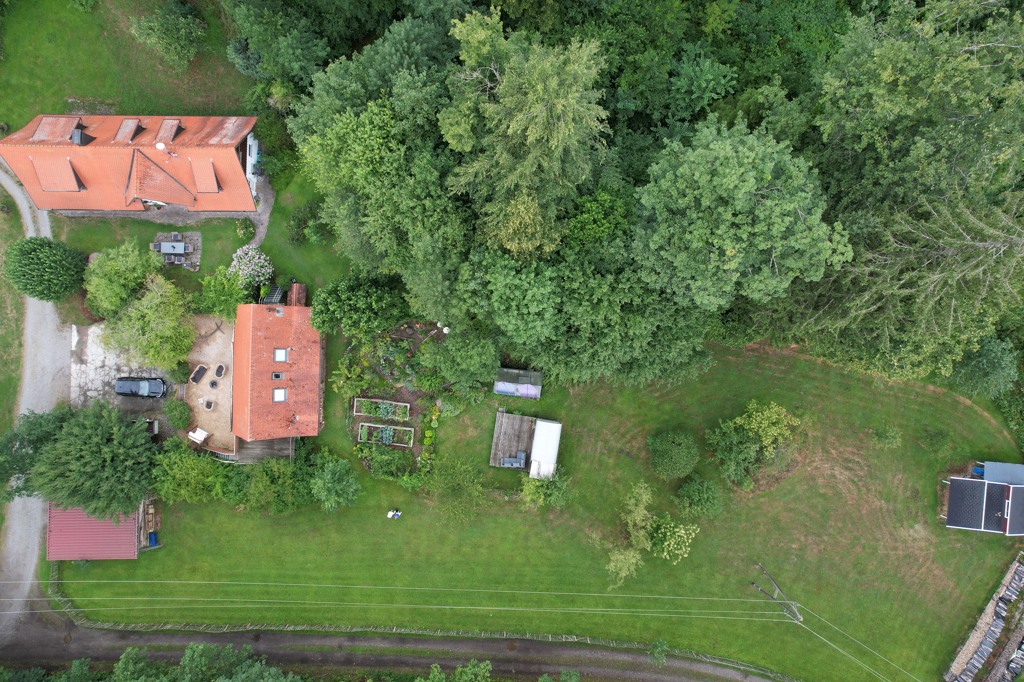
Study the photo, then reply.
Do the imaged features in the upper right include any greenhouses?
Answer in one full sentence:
No, there's no greenhouse to be seen in the upper right.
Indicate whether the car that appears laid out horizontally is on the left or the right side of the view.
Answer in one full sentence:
The car that appears laid out horizontally appears in the left half of the scene.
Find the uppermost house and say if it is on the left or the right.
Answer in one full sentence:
The uppermost house sits on the left side.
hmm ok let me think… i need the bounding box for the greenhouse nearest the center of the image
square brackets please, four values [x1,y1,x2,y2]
[493,367,543,398]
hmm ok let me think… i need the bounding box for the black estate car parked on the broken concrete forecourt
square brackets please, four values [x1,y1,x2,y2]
[114,376,169,400]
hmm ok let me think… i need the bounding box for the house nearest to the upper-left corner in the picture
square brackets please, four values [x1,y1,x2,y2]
[0,115,258,216]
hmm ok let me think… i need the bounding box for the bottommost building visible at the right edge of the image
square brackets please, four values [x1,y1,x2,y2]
[932,477,1024,536]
